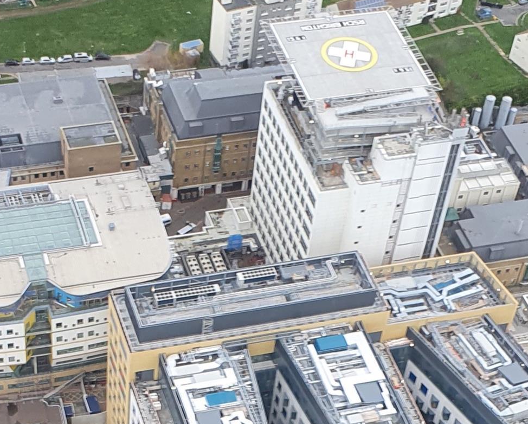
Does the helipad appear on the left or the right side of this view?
right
